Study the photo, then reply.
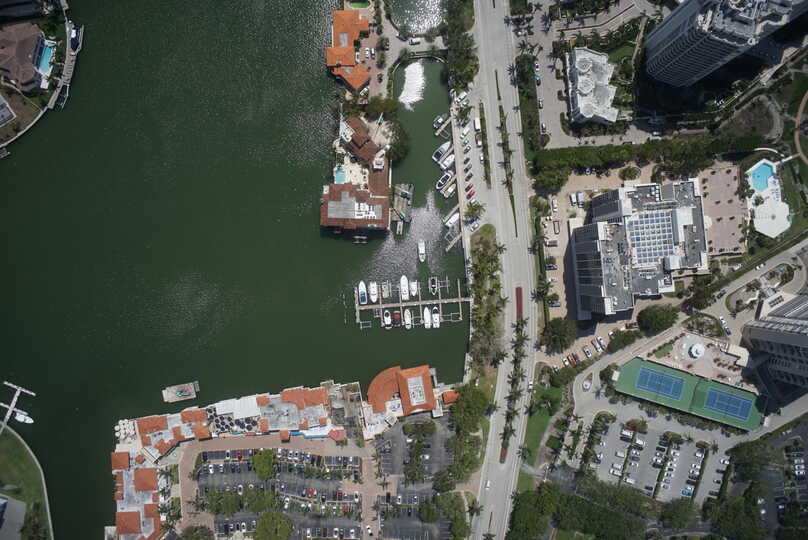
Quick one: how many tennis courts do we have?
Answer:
two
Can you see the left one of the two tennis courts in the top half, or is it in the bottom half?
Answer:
bottom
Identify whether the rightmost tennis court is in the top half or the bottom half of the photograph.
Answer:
bottom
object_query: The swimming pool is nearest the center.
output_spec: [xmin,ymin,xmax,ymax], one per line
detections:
[334,166,346,184]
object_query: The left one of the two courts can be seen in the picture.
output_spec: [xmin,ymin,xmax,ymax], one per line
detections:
[615,357,701,413]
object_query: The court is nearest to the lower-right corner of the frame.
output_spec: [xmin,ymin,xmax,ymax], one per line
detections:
[693,377,767,432]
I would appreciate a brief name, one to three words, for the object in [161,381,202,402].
ship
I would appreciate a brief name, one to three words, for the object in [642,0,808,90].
building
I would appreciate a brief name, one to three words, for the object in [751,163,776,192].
swimming pool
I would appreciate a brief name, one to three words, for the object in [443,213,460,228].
boat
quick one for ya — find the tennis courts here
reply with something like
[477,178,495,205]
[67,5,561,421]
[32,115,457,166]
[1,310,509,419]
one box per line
[693,377,767,432]
[615,357,701,413]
